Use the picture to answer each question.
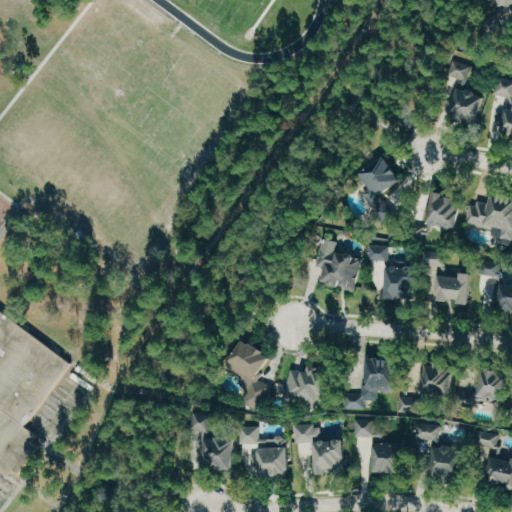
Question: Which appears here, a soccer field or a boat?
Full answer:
Visible in the photo is a soccer field.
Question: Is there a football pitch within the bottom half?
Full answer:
No, within the bottom half there is no football pitch.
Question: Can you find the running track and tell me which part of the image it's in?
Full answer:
You can find the running track in the top area of the picture.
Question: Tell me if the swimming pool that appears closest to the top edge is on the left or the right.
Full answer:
It is on the right.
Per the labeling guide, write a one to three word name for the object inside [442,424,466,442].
swimming pool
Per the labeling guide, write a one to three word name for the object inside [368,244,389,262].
building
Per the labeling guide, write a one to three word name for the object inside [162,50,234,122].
soccer field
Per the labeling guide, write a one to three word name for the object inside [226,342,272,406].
house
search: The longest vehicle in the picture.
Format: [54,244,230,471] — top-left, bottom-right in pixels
[69,374,93,392]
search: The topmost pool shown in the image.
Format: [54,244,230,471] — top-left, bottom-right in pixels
[345,190,371,218]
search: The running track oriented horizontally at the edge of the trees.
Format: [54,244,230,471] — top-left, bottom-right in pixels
[148,0,328,63]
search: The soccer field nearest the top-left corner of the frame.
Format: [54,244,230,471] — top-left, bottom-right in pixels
[55,35,131,109]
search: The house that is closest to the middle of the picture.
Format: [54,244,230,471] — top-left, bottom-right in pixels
[315,238,360,292]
